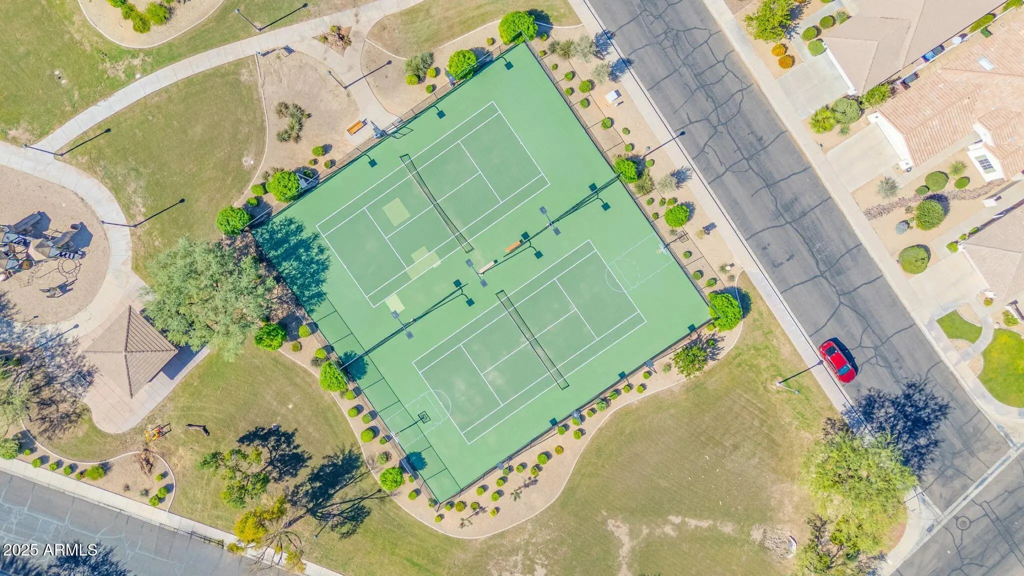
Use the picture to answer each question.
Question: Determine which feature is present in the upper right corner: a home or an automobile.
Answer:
home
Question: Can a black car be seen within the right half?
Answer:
No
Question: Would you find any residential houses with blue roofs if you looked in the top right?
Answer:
No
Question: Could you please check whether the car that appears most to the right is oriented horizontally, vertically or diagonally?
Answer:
diagonally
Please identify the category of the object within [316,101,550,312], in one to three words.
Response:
tennis court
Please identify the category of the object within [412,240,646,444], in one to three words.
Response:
tennis court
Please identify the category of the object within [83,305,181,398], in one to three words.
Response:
building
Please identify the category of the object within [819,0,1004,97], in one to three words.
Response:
house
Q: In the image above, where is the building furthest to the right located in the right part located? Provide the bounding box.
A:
[951,202,1024,303]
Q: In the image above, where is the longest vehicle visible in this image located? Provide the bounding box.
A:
[820,339,854,382]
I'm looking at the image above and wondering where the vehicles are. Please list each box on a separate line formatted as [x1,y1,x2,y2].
[145,429,163,440]
[820,339,854,382]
